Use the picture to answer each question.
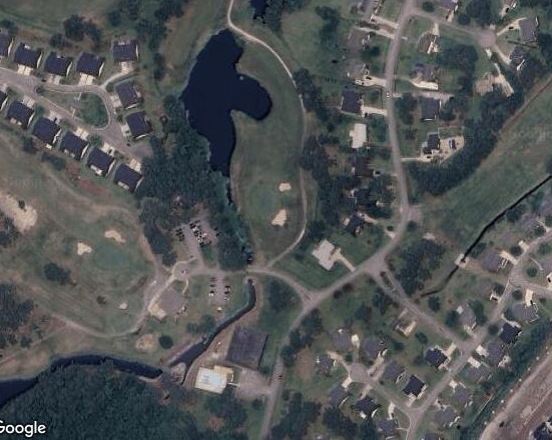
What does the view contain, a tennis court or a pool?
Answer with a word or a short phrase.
pool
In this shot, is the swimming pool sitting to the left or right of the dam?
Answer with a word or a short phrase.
right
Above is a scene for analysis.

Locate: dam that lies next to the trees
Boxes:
[146,362,189,386]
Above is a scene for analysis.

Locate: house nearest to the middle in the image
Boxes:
[313,240,336,270]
